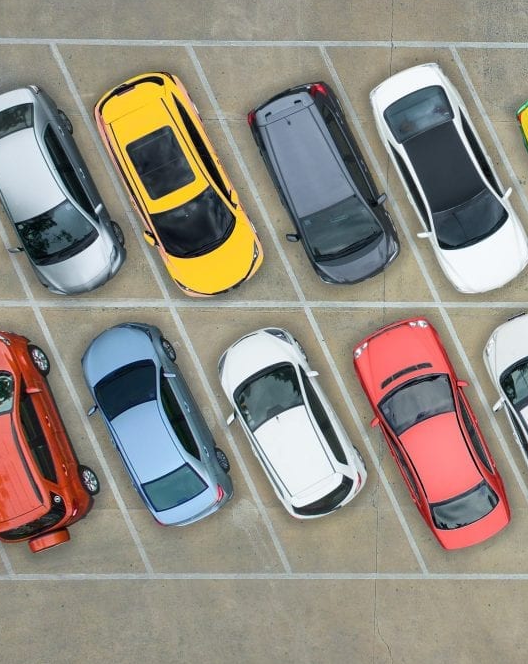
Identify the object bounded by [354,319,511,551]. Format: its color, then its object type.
red car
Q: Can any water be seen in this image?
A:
No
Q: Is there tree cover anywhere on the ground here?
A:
No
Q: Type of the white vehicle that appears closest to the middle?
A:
car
